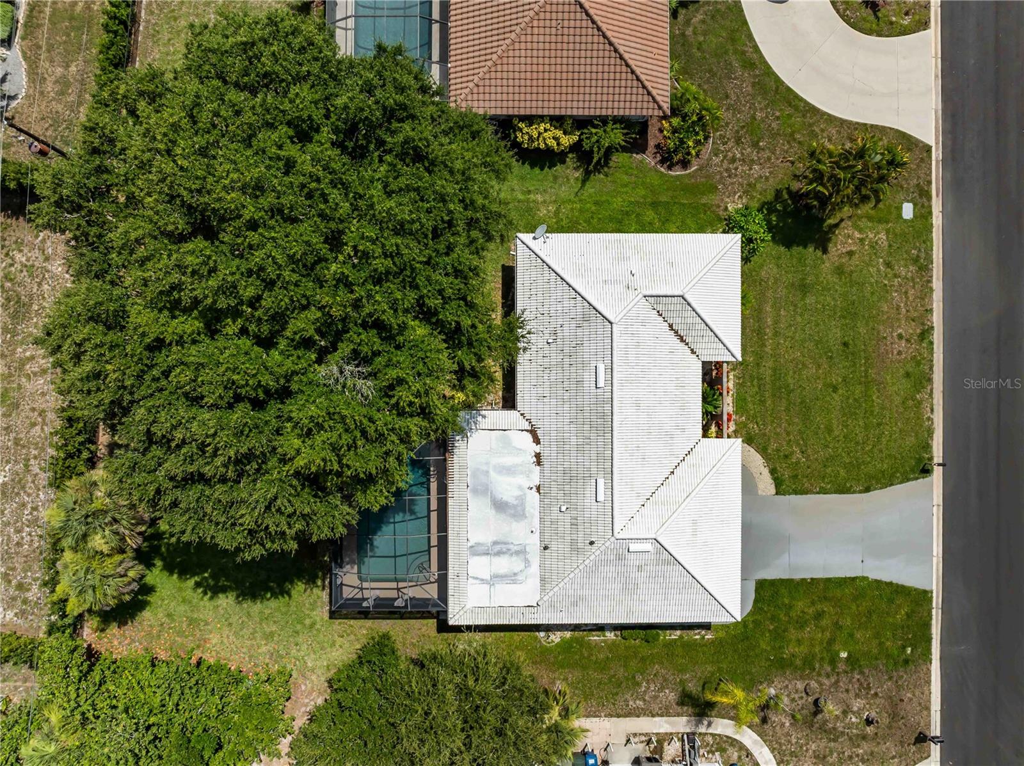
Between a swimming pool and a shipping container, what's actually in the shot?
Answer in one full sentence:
This aerial view contains a swimming pool.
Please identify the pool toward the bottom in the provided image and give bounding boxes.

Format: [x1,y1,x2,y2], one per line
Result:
[354,420,434,586]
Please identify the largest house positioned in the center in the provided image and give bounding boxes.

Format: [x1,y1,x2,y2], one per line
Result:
[447,232,743,625]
